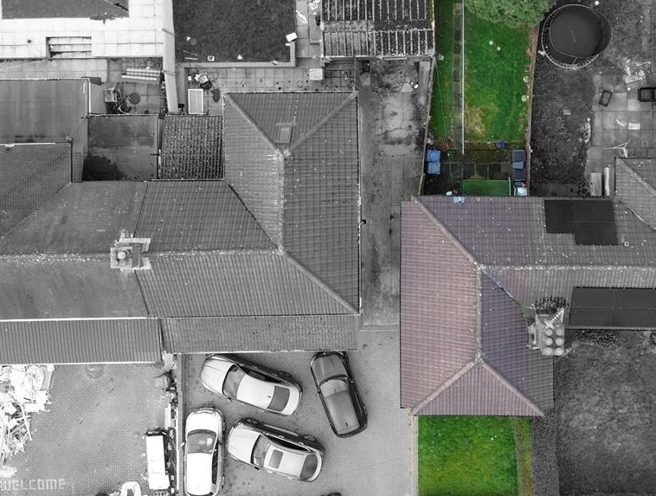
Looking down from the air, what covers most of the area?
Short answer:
buildings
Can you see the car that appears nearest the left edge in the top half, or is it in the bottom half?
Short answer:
bottom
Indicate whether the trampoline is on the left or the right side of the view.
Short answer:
right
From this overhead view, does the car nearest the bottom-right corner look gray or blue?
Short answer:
gray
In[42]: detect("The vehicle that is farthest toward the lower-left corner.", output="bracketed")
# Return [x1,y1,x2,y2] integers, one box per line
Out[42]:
[179,405,229,496]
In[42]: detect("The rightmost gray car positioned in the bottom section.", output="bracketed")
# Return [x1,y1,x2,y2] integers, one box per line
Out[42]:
[314,351,371,439]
